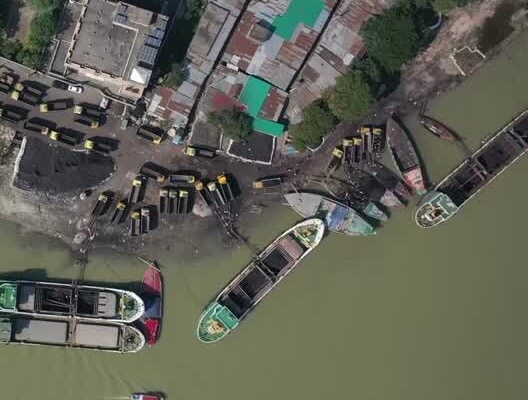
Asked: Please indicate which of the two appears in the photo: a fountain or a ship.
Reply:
ship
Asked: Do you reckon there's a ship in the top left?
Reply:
No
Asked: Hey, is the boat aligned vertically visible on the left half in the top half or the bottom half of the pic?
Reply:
bottom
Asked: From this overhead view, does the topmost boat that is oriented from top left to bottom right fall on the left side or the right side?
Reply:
right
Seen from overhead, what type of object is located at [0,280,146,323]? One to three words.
ship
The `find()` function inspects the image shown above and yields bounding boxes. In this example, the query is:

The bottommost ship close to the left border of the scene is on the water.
[0,314,147,355]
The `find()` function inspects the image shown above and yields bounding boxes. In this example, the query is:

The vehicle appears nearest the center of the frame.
[252,176,280,188]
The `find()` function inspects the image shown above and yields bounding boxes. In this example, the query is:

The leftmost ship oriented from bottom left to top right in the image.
[197,217,326,340]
